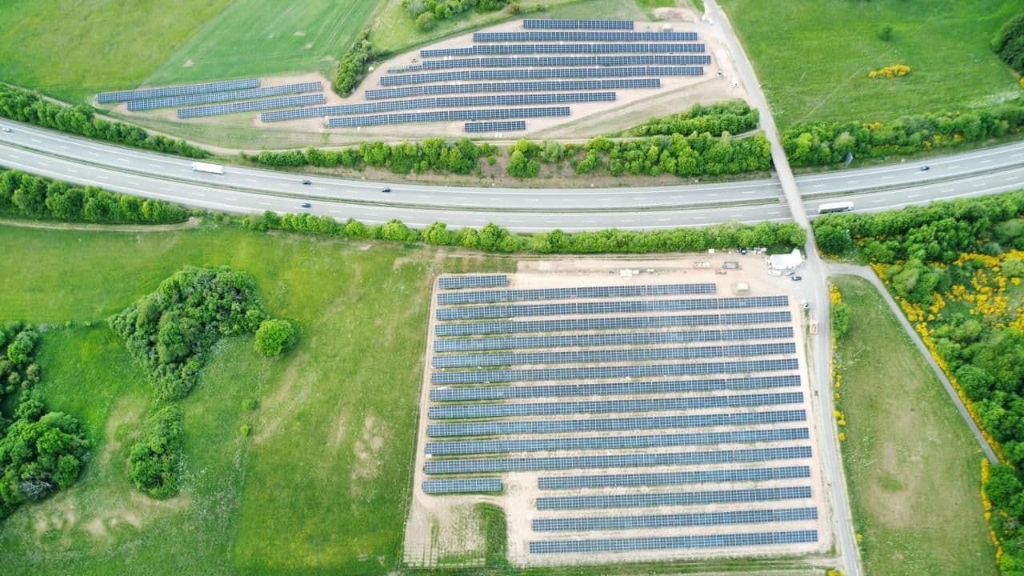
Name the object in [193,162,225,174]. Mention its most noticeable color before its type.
white vehicle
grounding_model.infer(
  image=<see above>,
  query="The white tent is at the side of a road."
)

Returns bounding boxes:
[768,248,801,271]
